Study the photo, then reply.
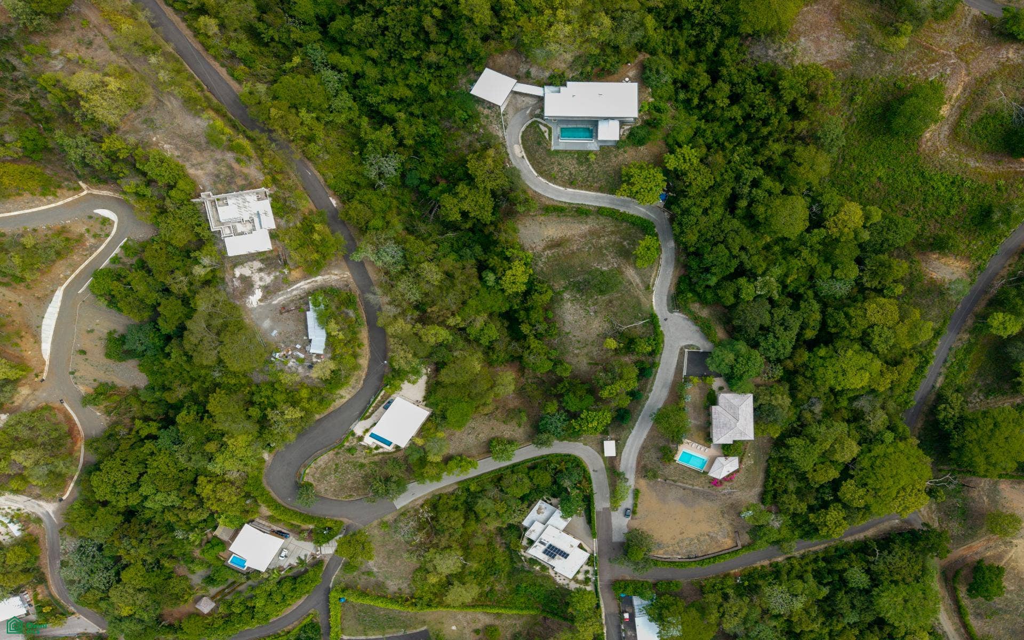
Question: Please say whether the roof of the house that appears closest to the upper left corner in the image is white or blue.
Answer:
white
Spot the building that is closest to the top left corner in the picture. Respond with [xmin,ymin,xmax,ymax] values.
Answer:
[193,187,278,256]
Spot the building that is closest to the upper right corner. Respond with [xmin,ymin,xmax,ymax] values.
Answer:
[544,82,638,141]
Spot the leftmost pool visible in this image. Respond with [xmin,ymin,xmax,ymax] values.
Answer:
[229,554,248,570]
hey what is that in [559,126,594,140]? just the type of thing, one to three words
swimming pool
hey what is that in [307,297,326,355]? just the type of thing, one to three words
shed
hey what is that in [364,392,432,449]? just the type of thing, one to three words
house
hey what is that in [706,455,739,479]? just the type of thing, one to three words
building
